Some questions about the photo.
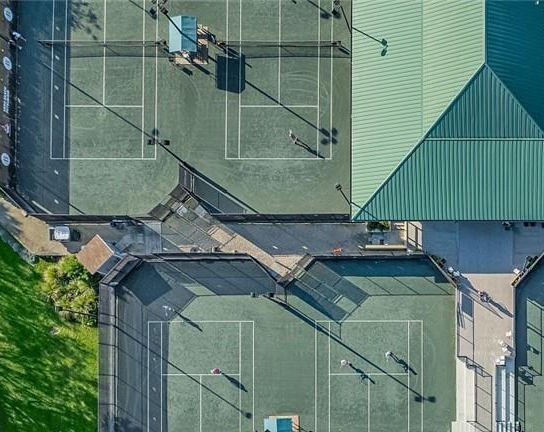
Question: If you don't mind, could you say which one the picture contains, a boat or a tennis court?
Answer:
tennis court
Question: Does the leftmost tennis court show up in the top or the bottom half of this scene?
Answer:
top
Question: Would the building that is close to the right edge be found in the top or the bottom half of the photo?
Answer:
top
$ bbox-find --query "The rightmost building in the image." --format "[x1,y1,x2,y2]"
[350,0,544,223]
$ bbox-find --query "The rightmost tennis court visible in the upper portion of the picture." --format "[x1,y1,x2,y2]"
[190,0,350,216]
